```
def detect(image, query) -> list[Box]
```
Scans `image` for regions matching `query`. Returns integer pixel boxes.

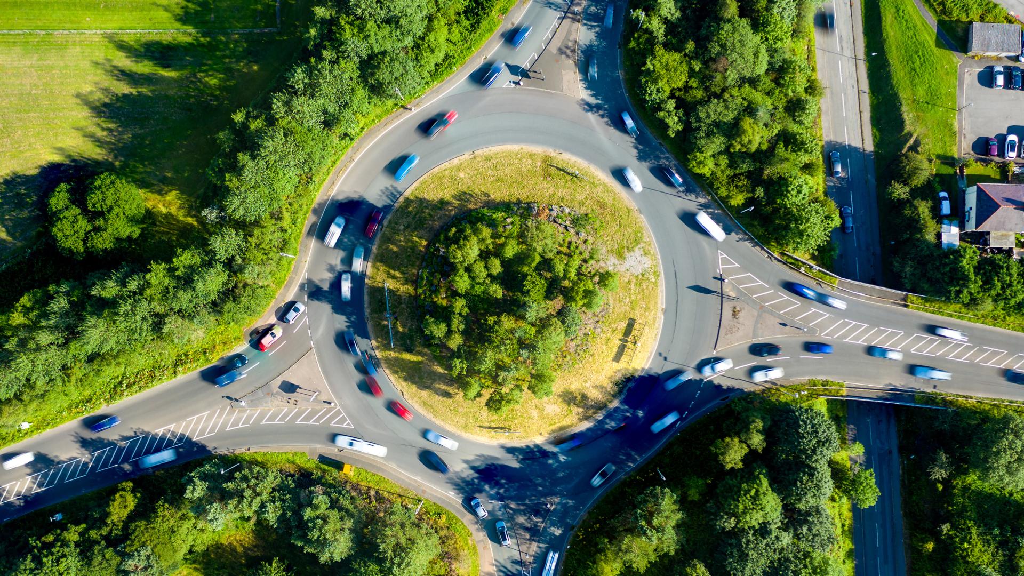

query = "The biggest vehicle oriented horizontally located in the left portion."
[335,432,387,458]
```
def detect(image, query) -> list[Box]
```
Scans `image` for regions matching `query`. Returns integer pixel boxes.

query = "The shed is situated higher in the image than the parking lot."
[965,22,1022,56]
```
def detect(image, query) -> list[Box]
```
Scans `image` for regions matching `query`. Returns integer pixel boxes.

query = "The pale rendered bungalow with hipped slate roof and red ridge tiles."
[967,181,1024,231]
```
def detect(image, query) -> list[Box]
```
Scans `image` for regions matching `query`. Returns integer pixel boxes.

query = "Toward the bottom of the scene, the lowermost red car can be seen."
[390,399,415,425]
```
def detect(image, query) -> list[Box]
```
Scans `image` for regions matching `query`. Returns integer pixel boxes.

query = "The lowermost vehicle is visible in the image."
[539,547,561,576]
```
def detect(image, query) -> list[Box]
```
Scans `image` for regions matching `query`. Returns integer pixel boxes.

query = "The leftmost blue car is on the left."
[91,414,120,433]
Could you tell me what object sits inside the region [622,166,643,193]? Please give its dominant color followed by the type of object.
white car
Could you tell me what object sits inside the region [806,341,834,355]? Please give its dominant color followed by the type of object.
blue car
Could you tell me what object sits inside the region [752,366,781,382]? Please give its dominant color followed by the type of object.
white car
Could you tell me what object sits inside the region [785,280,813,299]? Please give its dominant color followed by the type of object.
blue car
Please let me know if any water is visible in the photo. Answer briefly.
No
